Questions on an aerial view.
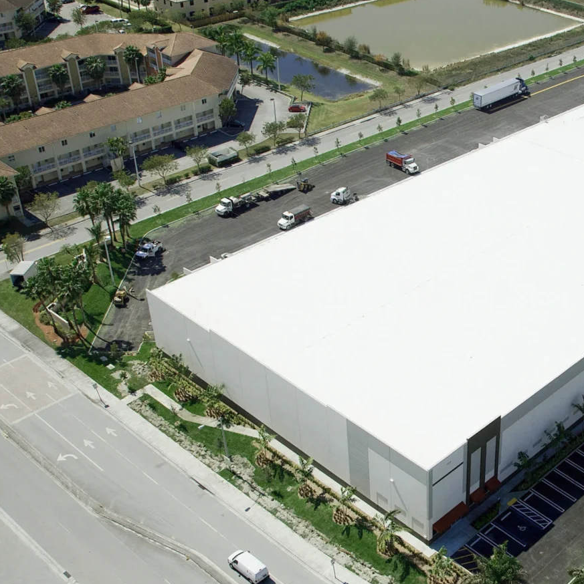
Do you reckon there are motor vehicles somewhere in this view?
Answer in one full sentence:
Yes, the image includes a motor vehicle.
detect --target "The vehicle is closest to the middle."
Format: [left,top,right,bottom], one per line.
[279,207,314,228]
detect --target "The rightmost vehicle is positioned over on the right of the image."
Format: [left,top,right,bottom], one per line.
[512,82,530,99]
